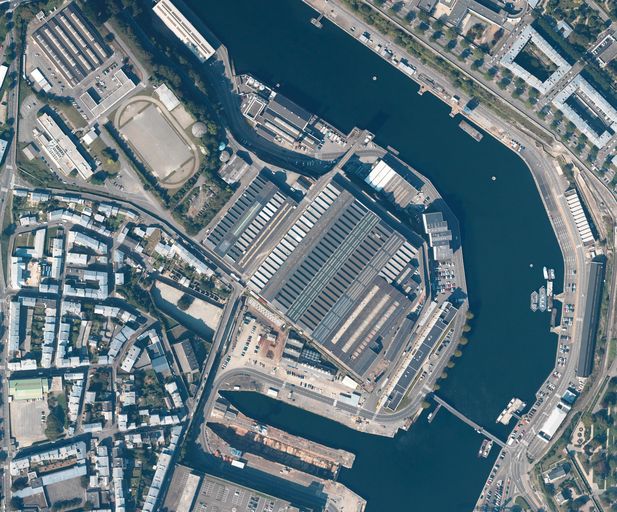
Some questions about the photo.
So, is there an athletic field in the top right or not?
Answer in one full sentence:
No, I see no athletic field in the top right.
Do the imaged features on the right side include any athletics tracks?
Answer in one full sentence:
No, looking on the right side, there is no athletics track.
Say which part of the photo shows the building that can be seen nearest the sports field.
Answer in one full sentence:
The building that can be seen nearest the sports field is in the top left part of the image.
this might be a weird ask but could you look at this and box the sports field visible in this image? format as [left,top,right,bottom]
[121,103,194,181]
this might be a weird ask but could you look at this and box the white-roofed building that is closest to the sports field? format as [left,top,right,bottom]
[154,83,180,111]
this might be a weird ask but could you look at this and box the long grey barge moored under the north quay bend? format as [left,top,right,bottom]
[460,120,483,142]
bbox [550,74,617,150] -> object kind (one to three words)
building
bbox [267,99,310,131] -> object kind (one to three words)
shed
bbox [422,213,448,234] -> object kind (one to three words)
building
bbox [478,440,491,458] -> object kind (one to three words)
ship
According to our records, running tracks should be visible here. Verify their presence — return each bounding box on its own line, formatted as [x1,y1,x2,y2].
[112,92,202,191]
